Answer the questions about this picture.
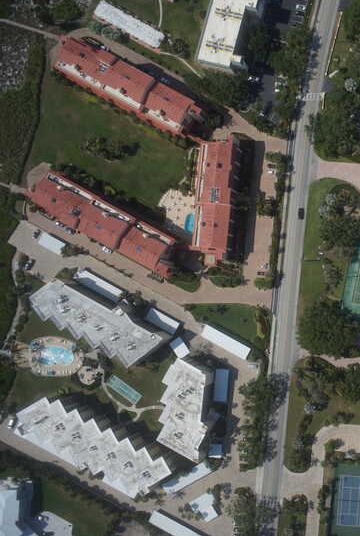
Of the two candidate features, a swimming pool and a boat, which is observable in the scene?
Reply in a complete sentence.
Looking from above, you can make out a swimming pool.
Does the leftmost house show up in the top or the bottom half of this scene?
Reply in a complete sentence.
The bottom half of the photo is where the leftmost house is.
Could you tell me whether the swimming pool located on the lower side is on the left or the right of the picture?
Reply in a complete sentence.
It is on the left.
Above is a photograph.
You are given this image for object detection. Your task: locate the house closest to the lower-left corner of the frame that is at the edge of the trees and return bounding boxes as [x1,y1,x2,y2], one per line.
[0,478,36,536]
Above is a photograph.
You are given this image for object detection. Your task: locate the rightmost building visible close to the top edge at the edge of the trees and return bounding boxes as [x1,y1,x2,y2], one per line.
[198,0,267,77]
